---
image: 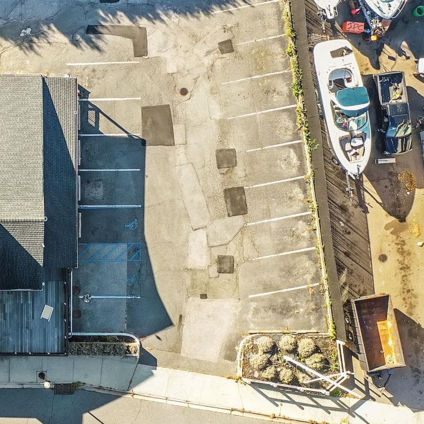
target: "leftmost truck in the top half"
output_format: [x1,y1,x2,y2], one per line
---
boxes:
[369,72,414,157]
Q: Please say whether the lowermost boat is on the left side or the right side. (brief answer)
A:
right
